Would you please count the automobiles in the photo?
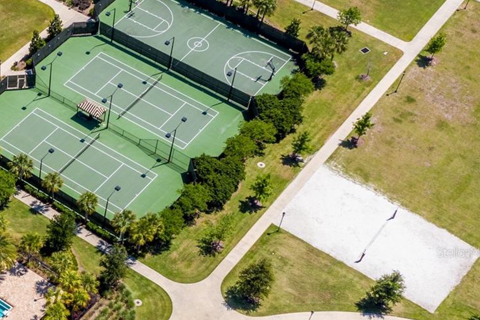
0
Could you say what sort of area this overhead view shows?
sports ground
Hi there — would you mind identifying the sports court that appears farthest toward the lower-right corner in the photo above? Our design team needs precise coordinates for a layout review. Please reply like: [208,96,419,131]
[272,166,479,313]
